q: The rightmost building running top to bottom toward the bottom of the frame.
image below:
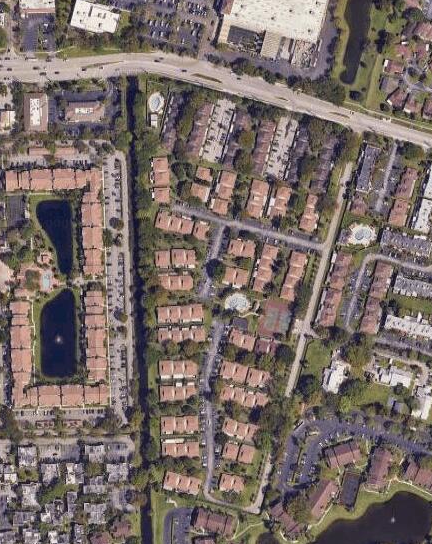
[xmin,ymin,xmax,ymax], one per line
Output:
[413,381,432,422]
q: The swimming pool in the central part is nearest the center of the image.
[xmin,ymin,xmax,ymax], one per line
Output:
[225,294,250,312]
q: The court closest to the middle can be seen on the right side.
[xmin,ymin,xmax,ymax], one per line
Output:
[258,301,292,339]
